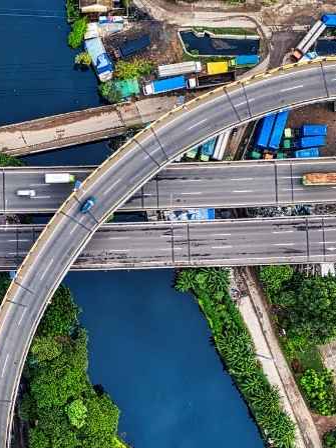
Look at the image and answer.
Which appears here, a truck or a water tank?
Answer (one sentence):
I can see a truck in this picture.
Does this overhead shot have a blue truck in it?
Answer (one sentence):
Yes, there is a blue truck in the image.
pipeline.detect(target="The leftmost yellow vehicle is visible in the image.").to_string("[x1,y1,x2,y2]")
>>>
[195,62,230,78]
